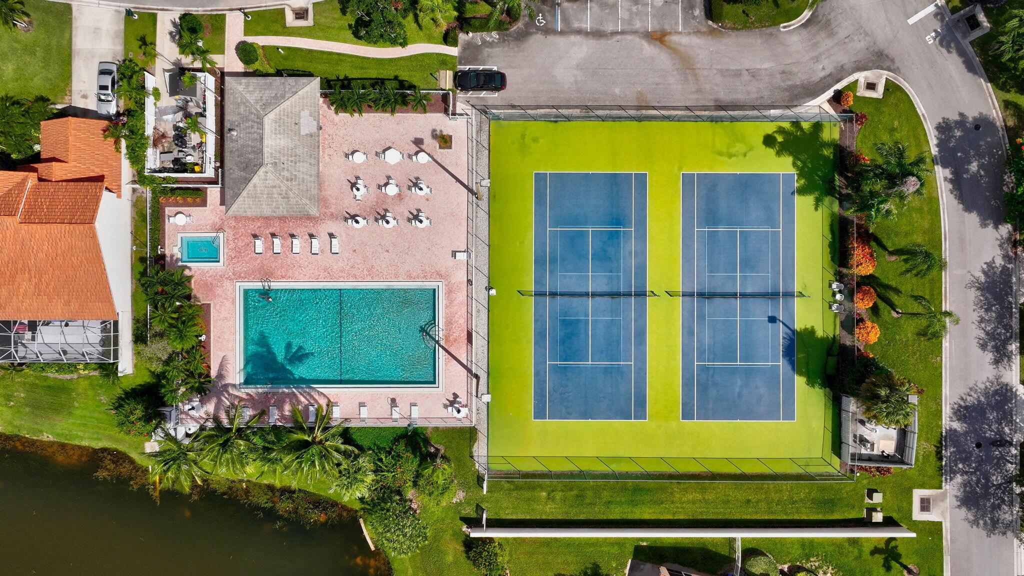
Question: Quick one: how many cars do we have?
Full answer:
I count 2 cars.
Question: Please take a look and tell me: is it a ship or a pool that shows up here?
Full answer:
This aerial view contains a pool.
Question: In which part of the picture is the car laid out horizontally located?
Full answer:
The car laid out horizontally is located in the top region of the scene.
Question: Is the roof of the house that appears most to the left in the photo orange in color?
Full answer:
Yes, the roof of the house that appears most to the left is indeed orange.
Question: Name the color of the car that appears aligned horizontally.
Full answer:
The car that appears aligned horizontally is black.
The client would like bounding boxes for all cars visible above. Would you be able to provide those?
[91,62,118,117]
[455,67,507,92]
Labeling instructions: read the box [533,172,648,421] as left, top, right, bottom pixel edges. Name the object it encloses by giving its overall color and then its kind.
blue tennis court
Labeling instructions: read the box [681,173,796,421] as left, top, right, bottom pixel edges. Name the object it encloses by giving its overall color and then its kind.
blue tennis court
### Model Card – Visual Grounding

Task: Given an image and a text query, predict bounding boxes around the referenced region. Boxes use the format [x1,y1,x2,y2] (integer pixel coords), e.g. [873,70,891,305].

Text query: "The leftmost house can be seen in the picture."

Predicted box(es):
[0,116,133,376]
